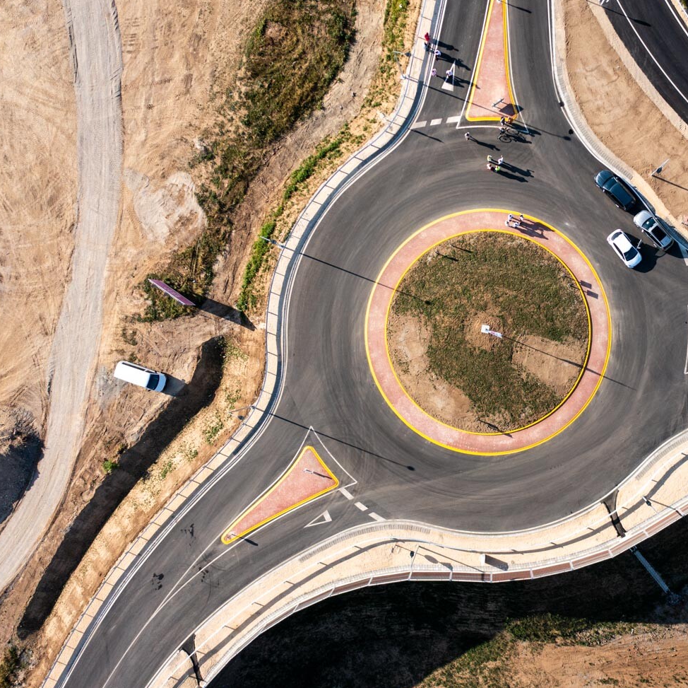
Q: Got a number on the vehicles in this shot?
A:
4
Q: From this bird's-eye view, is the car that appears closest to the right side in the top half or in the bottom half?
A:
top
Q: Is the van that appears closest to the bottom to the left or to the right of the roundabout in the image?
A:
to the left of it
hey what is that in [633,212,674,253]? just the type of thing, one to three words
car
